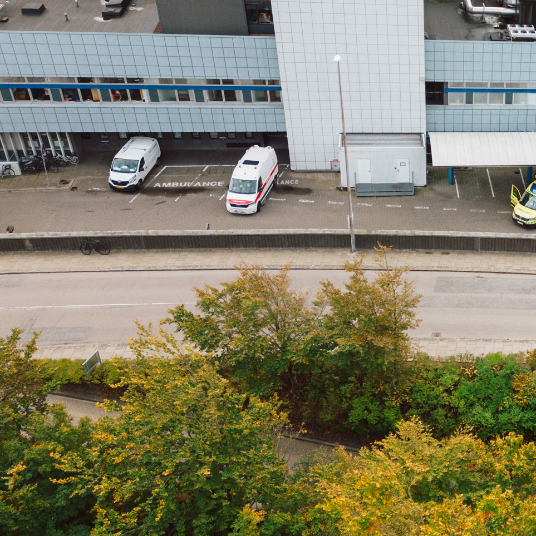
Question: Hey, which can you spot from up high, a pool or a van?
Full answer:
This aerial view contains a van.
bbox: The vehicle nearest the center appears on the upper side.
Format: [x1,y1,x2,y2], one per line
[227,144,281,215]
